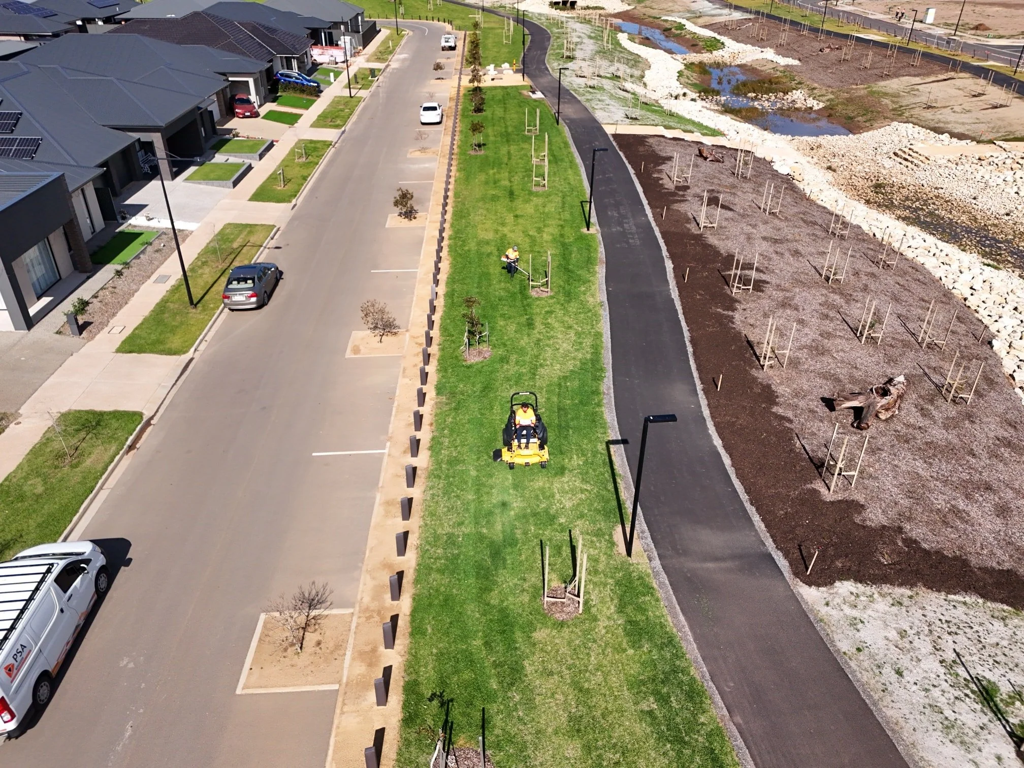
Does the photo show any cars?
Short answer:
Yes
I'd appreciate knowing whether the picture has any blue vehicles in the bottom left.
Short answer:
No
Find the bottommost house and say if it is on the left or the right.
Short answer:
left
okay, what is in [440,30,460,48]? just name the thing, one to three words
vehicle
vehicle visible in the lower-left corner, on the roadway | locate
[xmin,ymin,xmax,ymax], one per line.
[0,545,107,738]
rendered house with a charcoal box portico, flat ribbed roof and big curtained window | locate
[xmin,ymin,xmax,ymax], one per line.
[0,156,108,329]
